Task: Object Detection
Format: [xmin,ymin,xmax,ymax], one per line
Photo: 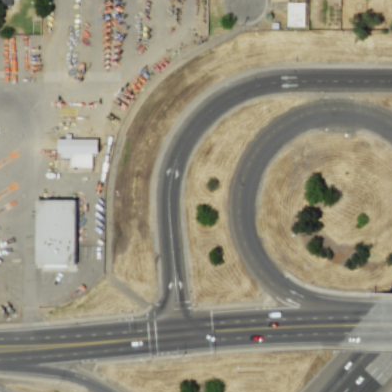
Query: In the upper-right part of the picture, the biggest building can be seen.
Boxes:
[287,2,306,27]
